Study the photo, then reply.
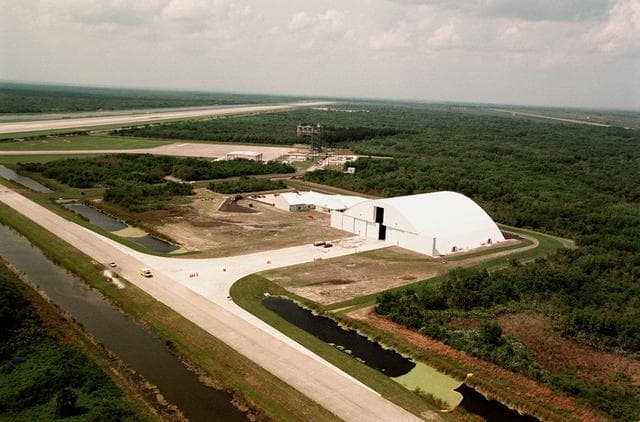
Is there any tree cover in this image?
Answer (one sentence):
Yes, some tree cover is visible.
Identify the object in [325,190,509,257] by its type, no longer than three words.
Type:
hangar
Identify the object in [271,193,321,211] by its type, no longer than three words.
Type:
building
